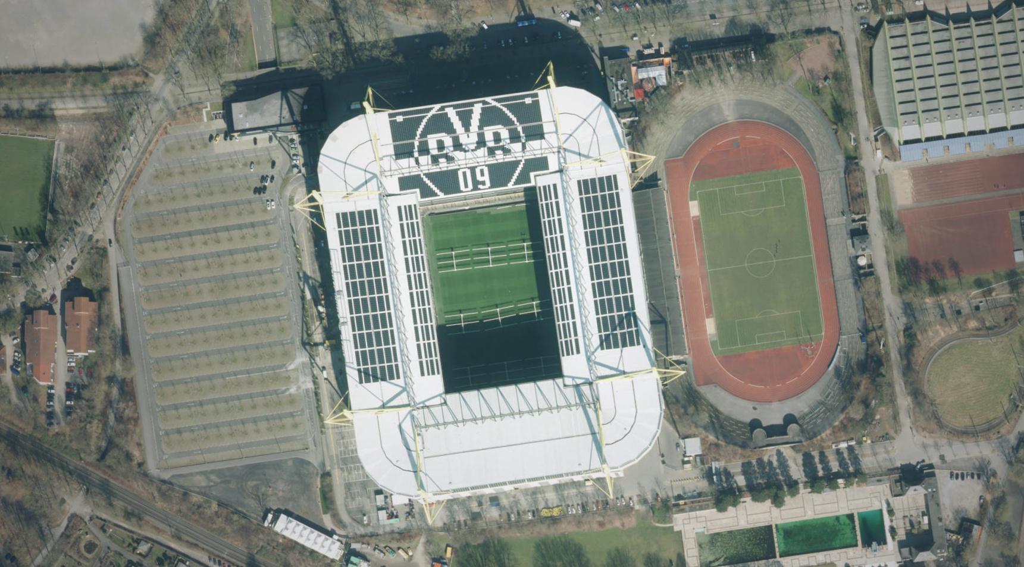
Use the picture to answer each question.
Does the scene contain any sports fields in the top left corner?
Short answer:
Yes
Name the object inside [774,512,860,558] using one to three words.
swimming pool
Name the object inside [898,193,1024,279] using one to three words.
sports court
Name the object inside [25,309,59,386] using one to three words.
house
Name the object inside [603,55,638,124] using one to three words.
building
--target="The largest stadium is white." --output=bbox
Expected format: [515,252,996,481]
[294,60,686,525]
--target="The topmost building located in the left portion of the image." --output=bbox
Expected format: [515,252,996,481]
[230,86,329,138]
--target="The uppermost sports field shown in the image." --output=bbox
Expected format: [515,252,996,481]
[0,0,154,68]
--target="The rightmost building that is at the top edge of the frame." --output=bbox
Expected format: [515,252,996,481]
[873,2,1024,163]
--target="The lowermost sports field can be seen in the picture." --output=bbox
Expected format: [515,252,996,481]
[914,306,1024,442]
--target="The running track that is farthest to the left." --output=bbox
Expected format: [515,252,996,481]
[668,119,839,403]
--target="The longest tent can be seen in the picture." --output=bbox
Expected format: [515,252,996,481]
[274,514,342,561]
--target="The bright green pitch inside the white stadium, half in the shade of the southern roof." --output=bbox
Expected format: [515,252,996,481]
[421,199,563,393]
